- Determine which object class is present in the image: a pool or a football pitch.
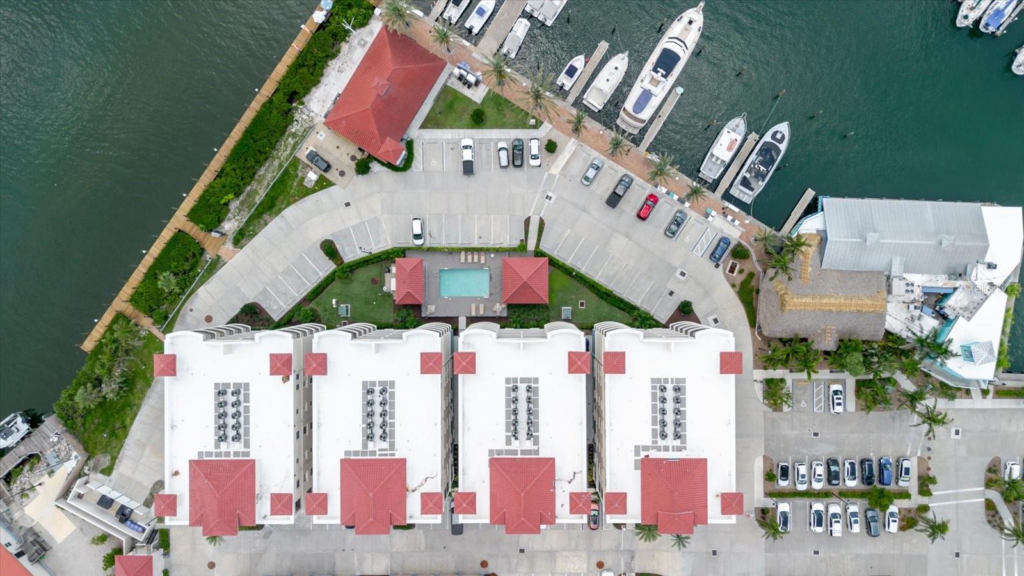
pool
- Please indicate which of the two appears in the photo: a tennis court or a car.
car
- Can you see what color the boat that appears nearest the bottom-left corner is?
white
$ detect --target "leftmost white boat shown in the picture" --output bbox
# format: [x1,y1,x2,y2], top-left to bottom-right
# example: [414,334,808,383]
[0,408,39,459]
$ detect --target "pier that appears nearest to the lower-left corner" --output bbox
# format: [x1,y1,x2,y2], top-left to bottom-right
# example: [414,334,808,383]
[0,414,62,478]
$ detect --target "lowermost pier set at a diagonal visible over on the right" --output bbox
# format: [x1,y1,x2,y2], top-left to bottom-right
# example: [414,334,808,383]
[779,187,816,233]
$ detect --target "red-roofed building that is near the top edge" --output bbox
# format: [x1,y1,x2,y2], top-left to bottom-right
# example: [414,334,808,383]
[324,24,447,175]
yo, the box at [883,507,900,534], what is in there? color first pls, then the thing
white car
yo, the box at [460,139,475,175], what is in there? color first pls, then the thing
white vehicle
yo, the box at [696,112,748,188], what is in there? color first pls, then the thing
white boat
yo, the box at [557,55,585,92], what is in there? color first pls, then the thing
white boat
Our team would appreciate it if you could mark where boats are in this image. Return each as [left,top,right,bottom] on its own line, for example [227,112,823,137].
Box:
[535,0,566,28]
[954,0,989,25]
[618,0,707,135]
[696,112,748,188]
[465,0,494,36]
[726,123,791,208]
[524,0,547,18]
[0,408,39,459]
[579,48,631,118]
[500,19,530,62]
[442,0,467,27]
[977,0,1017,31]
[557,55,585,92]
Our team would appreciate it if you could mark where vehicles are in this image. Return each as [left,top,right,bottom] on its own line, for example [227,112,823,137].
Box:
[827,382,845,414]
[863,506,880,537]
[1019,457,1024,488]
[635,192,660,222]
[809,501,826,533]
[663,208,688,239]
[793,460,809,491]
[605,173,633,209]
[776,461,790,486]
[810,459,826,490]
[883,507,900,534]
[460,139,475,175]
[580,156,604,187]
[448,494,464,534]
[776,500,791,532]
[825,455,841,486]
[844,502,861,533]
[527,137,542,168]
[895,456,913,487]
[859,456,876,486]
[842,458,858,487]
[411,216,425,247]
[304,148,334,174]
[510,138,525,169]
[876,456,893,486]
[1002,459,1021,489]
[587,496,600,528]
[708,234,732,265]
[495,142,509,169]
[826,503,843,536]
